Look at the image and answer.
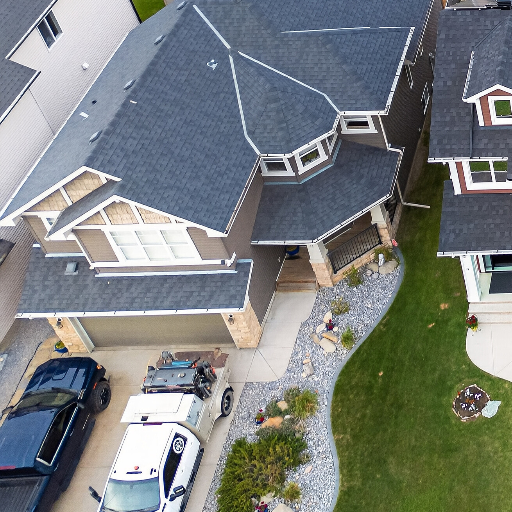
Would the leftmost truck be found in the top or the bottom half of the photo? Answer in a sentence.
It is in the bottom half that the leftmost truck appears.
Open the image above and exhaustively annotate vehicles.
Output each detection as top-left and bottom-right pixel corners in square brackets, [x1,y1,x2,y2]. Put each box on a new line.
[0,360,111,512]
[87,348,233,512]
